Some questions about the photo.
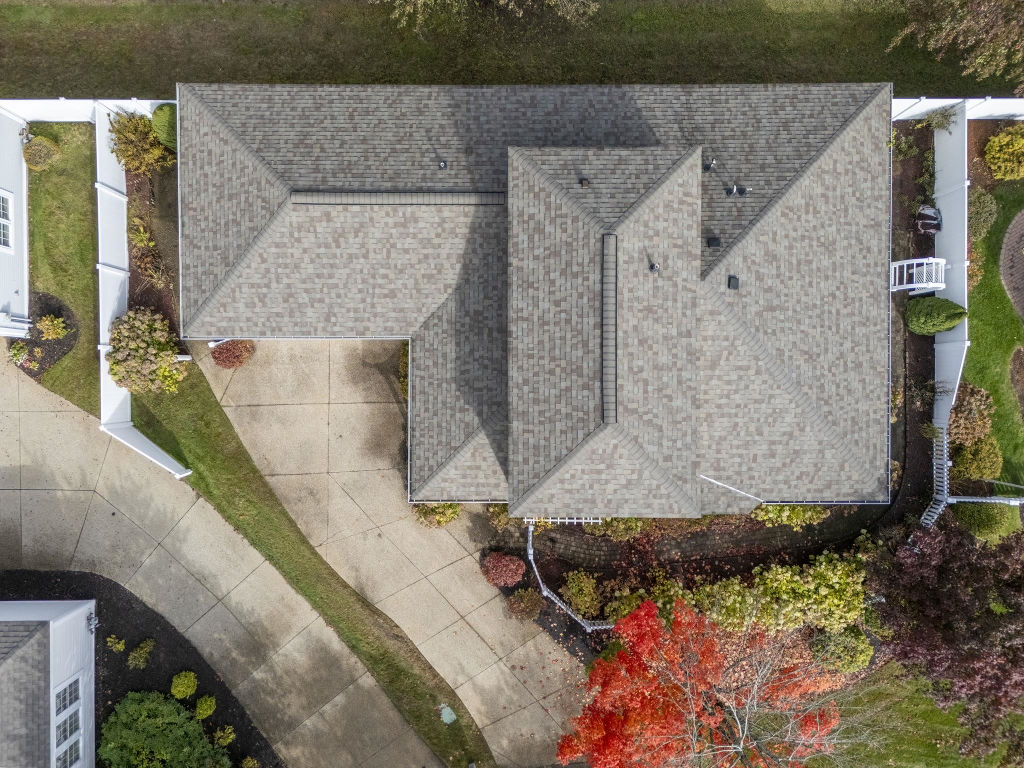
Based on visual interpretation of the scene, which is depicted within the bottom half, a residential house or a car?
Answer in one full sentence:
The one visible within the bottom half is a residential house.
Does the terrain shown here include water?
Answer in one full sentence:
No, there's no water in this view.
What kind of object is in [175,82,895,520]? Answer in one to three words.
house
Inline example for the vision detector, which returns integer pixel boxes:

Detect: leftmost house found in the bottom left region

[0,601,98,768]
